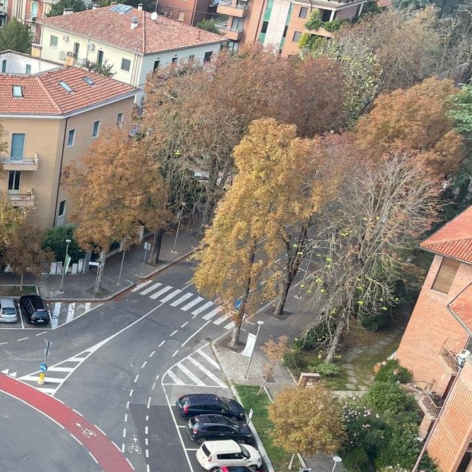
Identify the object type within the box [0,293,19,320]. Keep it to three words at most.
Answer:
car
